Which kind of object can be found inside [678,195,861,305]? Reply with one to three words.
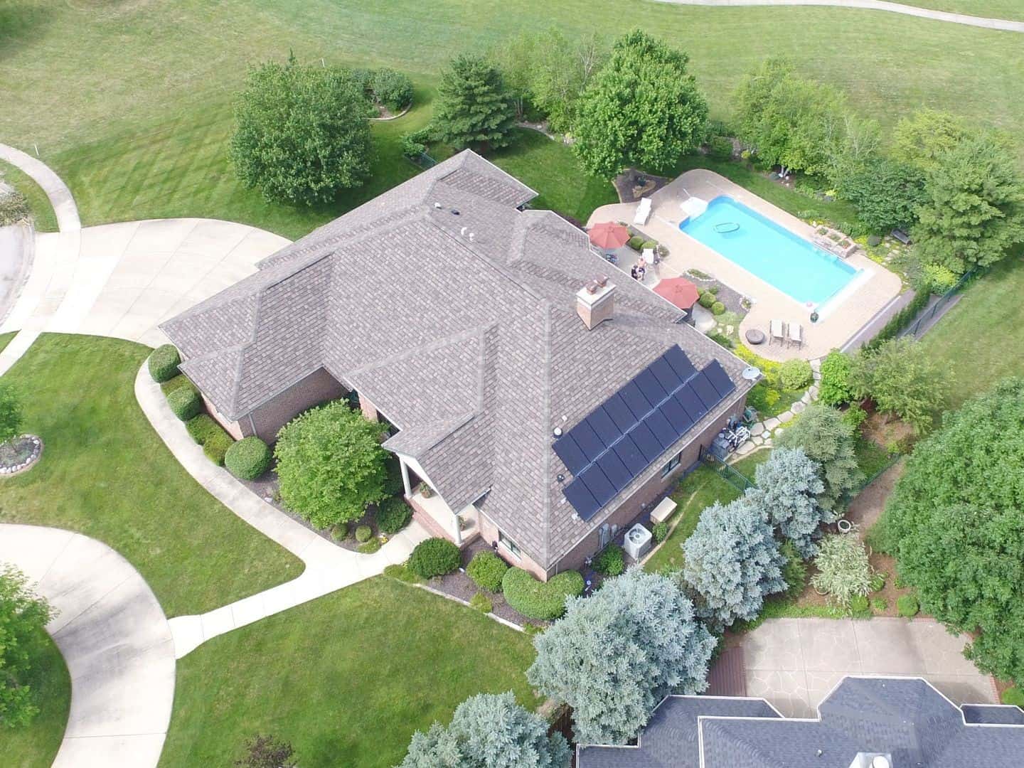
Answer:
swimming pool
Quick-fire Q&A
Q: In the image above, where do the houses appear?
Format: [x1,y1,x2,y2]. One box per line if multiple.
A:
[576,675,1024,768]
[157,148,766,583]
